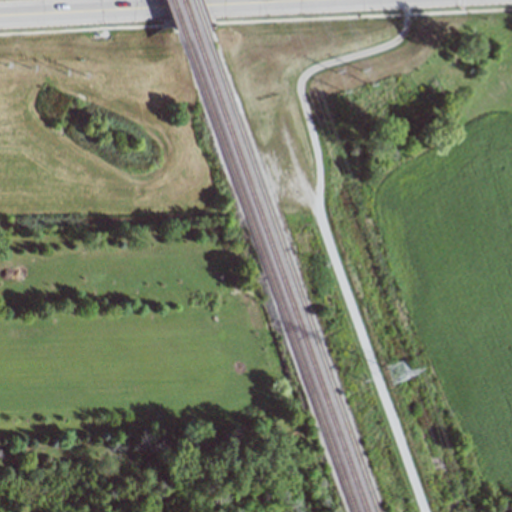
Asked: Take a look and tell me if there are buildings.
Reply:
No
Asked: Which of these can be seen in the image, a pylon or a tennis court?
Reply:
pylon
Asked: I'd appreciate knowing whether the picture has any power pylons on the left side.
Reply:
No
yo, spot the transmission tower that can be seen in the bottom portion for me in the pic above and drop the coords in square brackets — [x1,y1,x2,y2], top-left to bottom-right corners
[386,361,433,386]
